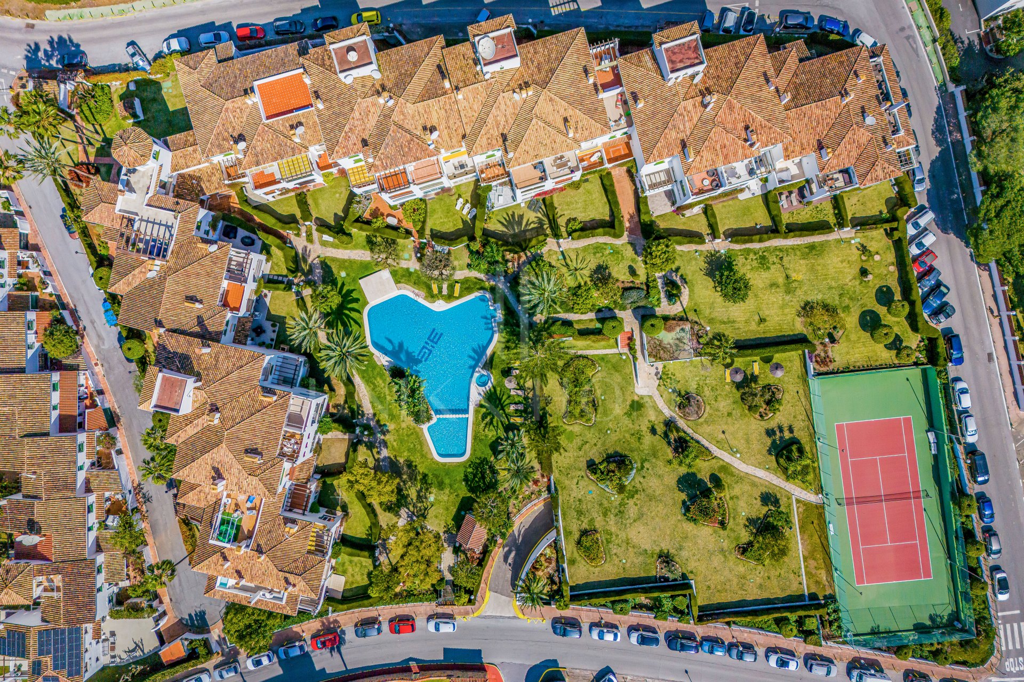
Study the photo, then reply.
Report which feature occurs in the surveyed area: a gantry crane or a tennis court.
tennis court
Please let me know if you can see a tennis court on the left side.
No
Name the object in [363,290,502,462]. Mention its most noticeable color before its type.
blue swimming pool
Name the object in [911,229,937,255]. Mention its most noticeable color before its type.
white car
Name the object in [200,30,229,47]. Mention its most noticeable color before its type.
blue car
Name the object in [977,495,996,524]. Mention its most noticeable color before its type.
blue car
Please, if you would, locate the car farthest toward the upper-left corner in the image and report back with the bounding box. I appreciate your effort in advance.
[58,50,92,67]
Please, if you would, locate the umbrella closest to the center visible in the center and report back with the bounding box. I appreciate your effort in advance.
[504,376,517,389]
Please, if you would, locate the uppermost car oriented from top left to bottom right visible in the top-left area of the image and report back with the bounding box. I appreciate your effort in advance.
[125,41,152,72]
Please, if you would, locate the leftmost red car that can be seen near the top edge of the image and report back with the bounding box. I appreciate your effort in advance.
[236,24,265,41]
